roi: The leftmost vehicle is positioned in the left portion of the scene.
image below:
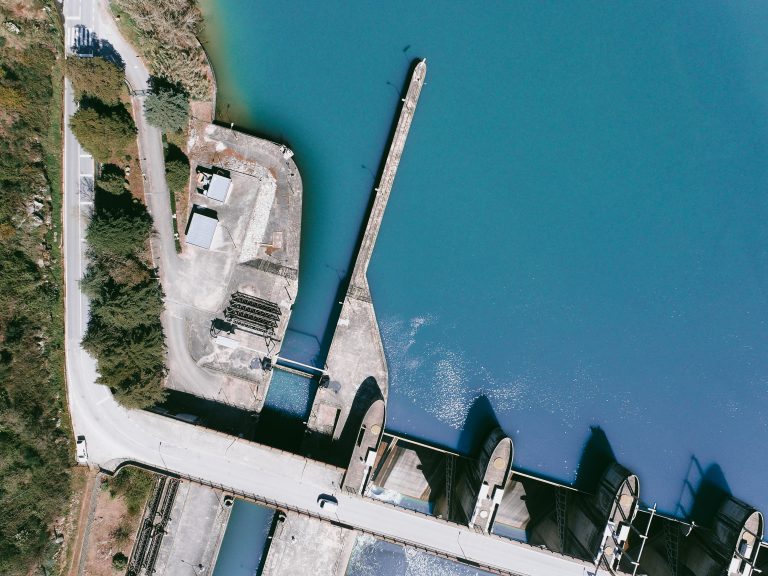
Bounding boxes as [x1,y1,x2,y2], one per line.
[76,439,88,463]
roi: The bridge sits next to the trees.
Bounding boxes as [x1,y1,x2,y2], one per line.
[149,412,647,576]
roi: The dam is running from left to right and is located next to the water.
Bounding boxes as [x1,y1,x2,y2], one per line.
[343,395,768,576]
